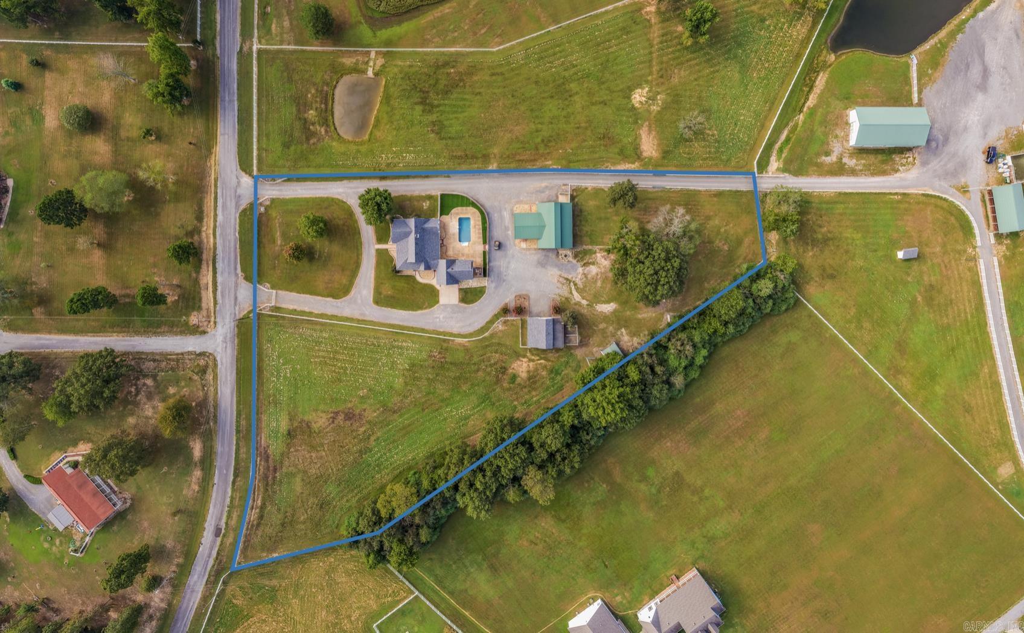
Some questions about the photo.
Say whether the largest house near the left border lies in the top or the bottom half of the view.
bottom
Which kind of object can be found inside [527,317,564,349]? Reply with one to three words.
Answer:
building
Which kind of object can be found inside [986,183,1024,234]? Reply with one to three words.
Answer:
barn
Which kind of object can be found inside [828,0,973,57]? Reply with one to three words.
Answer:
pond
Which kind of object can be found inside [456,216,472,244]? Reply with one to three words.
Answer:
swimming pool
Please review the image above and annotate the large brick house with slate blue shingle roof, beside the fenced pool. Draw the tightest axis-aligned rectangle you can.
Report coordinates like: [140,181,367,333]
[391,217,473,285]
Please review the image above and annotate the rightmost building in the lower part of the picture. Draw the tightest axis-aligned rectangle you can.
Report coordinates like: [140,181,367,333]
[638,573,726,633]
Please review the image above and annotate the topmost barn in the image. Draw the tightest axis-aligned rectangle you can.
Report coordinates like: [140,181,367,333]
[848,106,931,148]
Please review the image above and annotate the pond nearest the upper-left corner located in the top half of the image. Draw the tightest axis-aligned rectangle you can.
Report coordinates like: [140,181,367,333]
[334,75,385,140]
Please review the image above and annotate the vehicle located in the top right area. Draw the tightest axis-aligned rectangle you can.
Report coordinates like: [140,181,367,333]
[986,145,998,163]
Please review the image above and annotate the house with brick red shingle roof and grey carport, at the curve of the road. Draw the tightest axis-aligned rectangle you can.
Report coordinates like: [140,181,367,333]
[41,466,116,534]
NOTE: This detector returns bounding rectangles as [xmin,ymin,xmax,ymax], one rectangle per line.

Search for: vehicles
[494,241,499,249]
[986,145,998,163]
